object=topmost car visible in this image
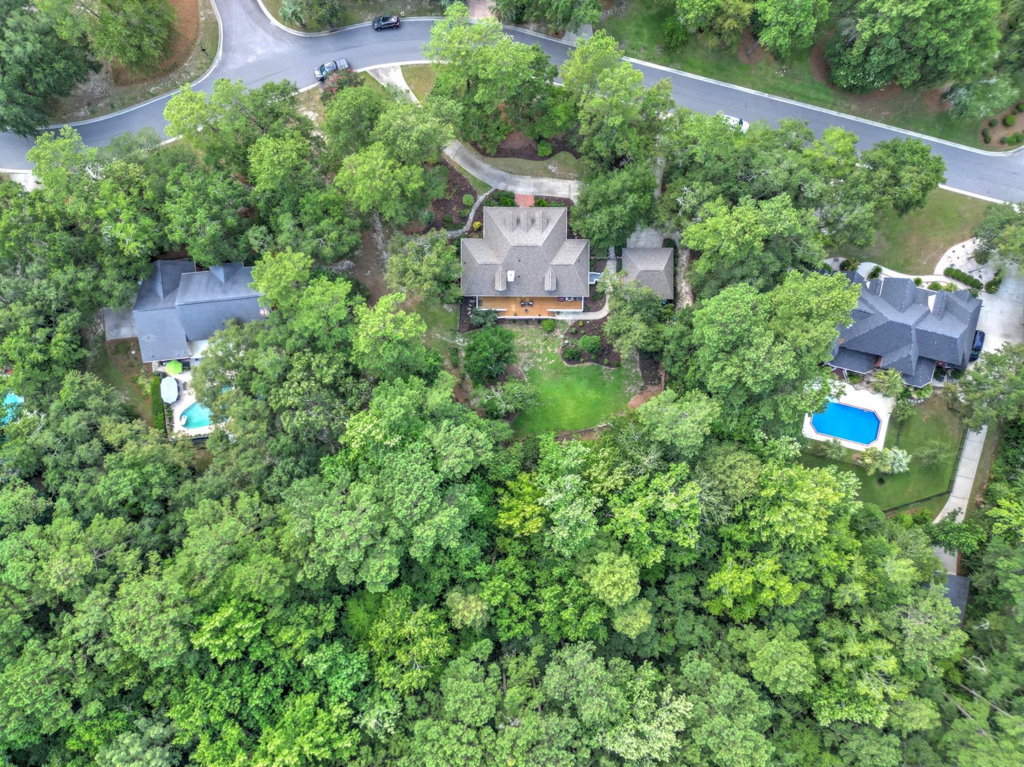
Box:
[373,12,401,30]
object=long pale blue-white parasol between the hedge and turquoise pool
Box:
[162,376,180,404]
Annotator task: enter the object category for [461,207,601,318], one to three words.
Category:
house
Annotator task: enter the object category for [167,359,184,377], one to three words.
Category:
umbrella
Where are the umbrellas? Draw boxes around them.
[167,359,184,377]
[162,376,180,404]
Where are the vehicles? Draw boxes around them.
[314,59,348,79]
[726,115,750,131]
[971,332,991,361]
[373,12,401,30]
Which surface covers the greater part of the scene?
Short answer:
trees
